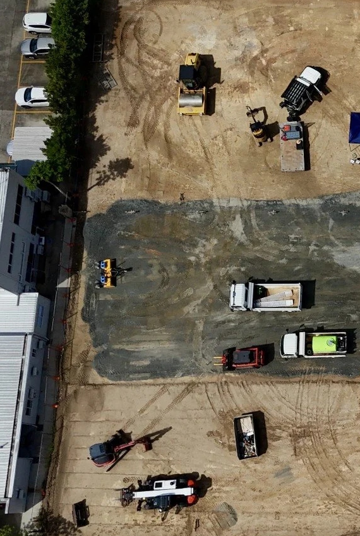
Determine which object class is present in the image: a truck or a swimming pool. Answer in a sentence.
This aerial view contains a truck.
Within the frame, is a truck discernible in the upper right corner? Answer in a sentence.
Yes, the scene does show a truck in the upper right corner.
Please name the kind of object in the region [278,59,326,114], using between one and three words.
truck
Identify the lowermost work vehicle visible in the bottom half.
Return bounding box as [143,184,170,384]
[112,476,194,514]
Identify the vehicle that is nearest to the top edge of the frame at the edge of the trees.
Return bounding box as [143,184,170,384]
[25,13,65,38]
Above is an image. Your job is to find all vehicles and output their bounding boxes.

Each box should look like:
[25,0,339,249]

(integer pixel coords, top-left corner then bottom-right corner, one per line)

[246,105,274,141]
[216,346,265,372]
[278,328,351,361]
[278,59,326,114]
[92,427,158,474]
[112,476,194,514]
[176,54,207,117]
[24,34,65,62]
[18,84,64,110]
[96,258,122,286]
[226,279,307,314]
[25,13,65,38]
